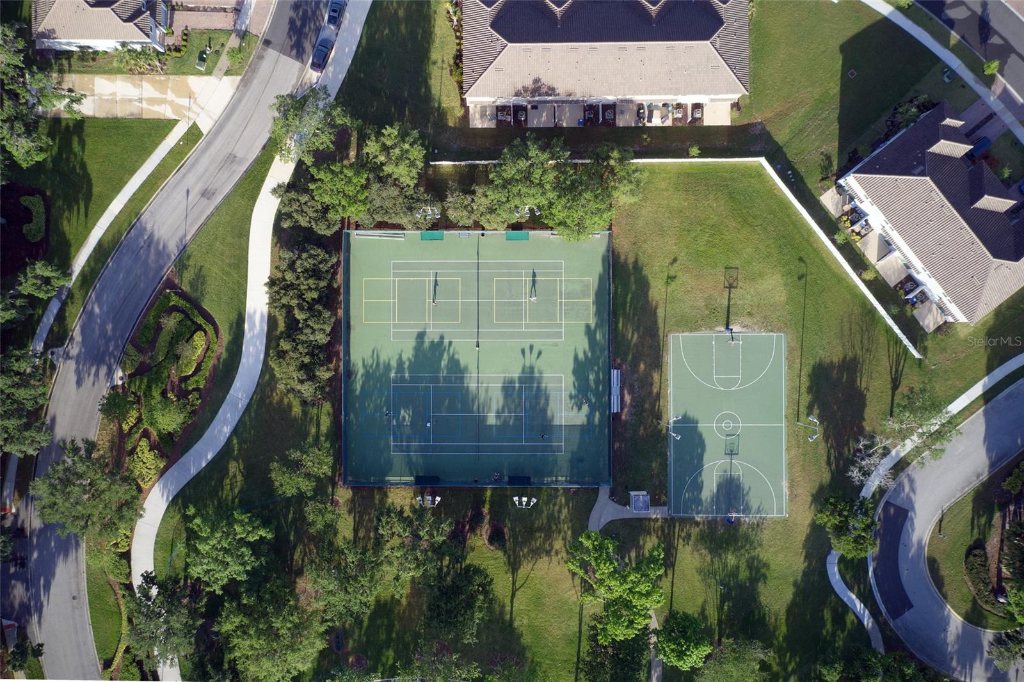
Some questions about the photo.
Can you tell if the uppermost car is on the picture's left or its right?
left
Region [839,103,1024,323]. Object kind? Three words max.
house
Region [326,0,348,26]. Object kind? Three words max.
car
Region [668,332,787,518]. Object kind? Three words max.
basketball court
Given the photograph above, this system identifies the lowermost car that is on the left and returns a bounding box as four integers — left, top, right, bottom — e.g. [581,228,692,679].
[311,38,333,74]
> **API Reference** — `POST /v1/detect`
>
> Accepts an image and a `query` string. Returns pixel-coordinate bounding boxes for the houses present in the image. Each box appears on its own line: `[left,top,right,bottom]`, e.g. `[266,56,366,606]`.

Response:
[839,103,1024,323]
[463,0,749,106]
[36,0,172,51]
